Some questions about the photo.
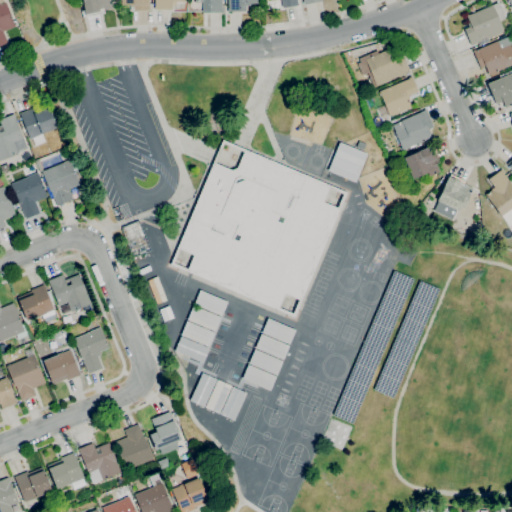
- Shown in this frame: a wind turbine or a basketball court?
basketball court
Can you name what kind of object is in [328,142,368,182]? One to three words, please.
building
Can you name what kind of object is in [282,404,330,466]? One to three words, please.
basketball court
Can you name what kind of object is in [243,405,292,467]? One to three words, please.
basketball court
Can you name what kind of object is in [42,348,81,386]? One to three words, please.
house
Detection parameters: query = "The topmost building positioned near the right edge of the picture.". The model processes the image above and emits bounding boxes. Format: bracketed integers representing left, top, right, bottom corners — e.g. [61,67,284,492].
[466,5,506,46]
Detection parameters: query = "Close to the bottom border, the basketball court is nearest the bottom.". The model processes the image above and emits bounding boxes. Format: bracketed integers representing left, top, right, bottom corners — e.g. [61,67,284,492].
[260,457,308,512]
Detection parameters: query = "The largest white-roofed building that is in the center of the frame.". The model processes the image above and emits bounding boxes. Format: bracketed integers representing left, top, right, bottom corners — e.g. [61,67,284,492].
[170,139,350,320]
